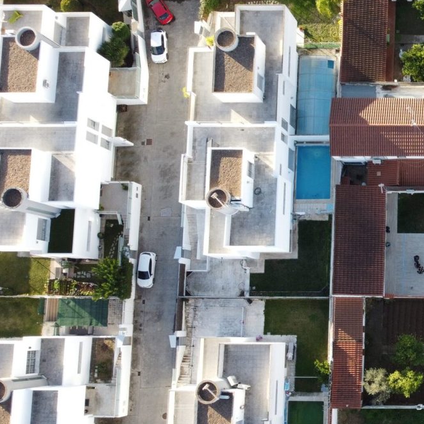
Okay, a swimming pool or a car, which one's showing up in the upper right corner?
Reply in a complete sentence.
You can see a swimming pool in the upper right corner.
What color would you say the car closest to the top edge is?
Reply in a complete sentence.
The car closest to the top edge is red.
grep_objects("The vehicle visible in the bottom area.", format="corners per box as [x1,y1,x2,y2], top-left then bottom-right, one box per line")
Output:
[134,251,159,289]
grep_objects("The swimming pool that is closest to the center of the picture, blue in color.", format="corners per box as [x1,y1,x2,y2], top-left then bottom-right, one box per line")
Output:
[294,144,333,201]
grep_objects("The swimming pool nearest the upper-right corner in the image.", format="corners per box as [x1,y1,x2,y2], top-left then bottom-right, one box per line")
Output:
[297,63,335,134]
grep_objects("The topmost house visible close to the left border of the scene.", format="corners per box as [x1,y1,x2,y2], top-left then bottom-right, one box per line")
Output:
[0,4,136,146]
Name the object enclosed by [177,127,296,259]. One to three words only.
house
